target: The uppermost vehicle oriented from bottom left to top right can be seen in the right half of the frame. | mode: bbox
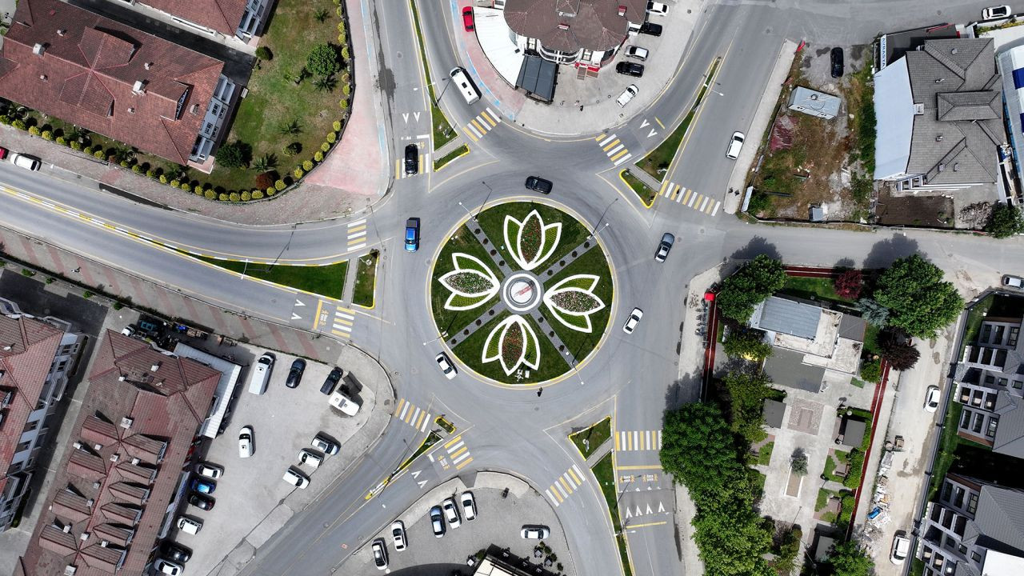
[616,82,639,109]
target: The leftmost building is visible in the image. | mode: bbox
[0,294,92,503]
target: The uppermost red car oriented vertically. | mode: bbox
[461,6,474,32]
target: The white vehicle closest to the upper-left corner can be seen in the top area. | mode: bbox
[7,151,44,172]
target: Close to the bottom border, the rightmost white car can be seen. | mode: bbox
[888,531,908,566]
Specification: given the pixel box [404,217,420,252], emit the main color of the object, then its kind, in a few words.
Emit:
blue vehicle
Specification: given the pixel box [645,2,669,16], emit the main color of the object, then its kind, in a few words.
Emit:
white car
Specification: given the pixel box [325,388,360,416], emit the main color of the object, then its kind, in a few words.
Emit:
white trailer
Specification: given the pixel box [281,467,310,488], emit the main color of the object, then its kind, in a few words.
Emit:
white vehicle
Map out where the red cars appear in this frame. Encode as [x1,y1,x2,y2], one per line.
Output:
[461,6,474,32]
[0,148,6,161]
